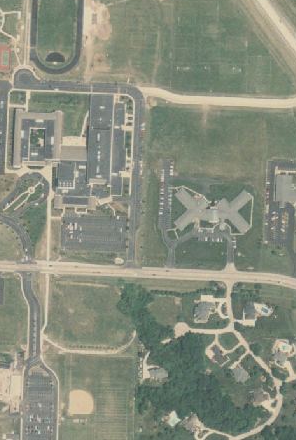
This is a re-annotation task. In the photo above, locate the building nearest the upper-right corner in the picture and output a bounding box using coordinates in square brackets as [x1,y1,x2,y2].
[276,176,296,201]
